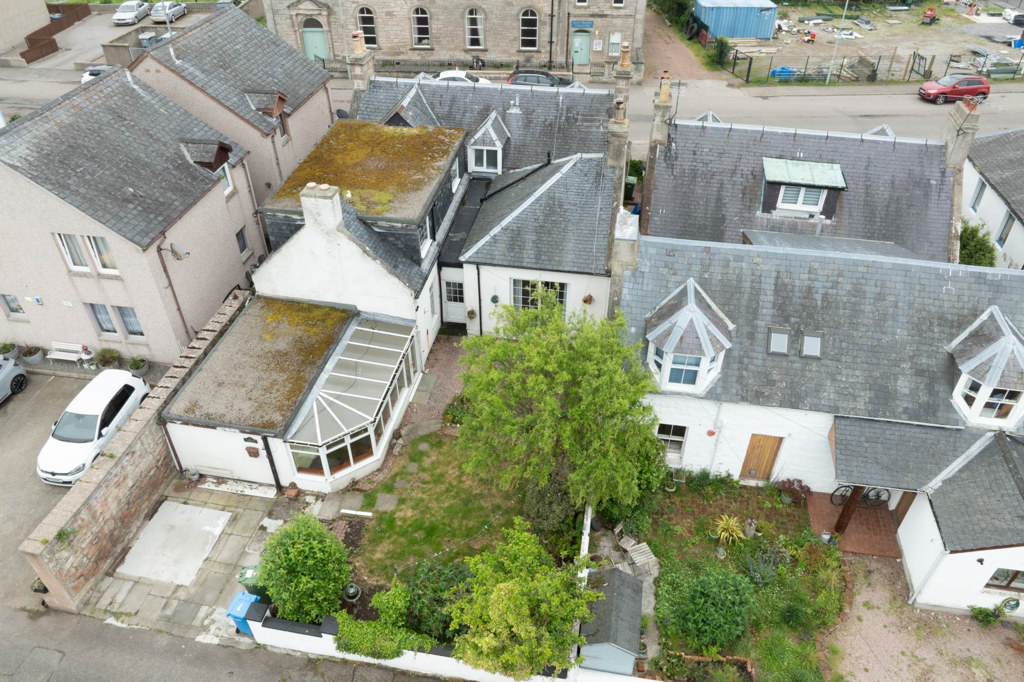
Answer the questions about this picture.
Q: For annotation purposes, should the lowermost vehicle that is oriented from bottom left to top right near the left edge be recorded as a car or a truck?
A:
car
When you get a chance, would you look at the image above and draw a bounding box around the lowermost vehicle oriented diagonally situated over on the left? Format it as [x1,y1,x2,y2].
[28,364,154,478]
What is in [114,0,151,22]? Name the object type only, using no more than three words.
car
